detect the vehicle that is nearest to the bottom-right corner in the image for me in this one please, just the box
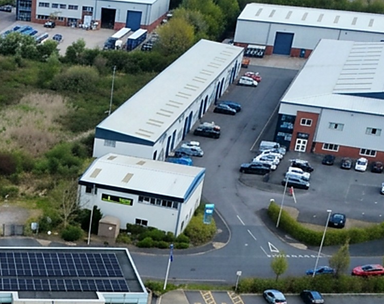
[349,264,384,278]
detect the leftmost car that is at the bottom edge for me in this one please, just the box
[264,291,286,304]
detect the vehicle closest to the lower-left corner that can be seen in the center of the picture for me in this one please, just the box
[171,154,195,166]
